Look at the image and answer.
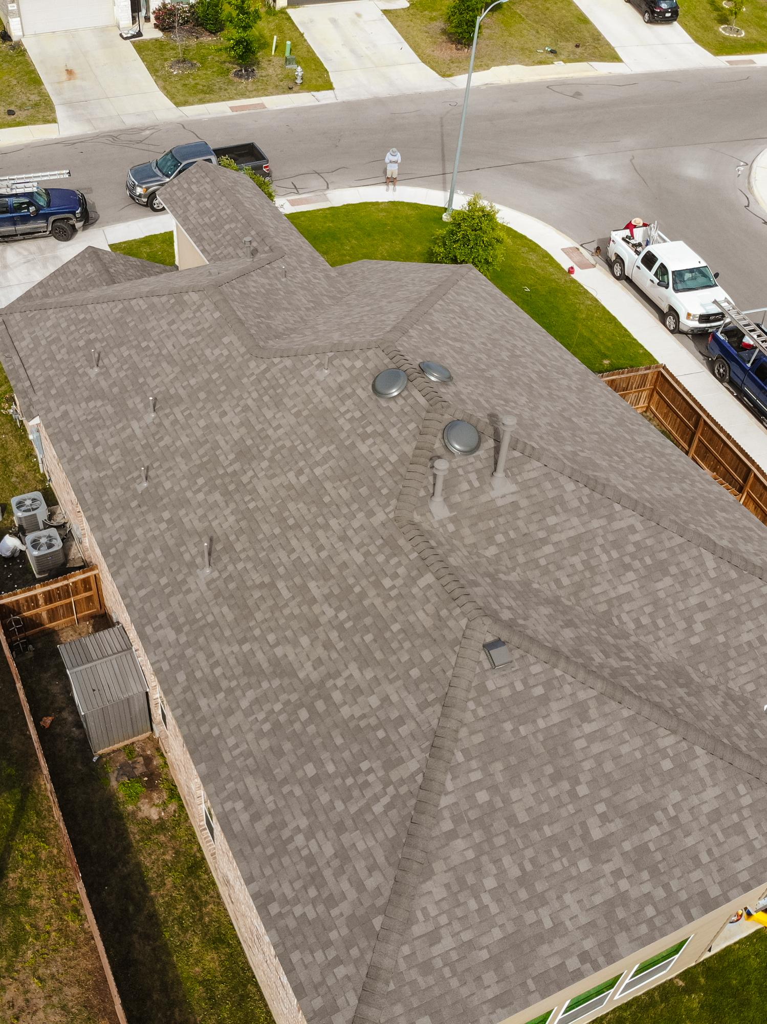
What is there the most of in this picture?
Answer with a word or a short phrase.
buildings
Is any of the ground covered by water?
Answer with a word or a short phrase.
No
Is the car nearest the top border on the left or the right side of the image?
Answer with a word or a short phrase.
right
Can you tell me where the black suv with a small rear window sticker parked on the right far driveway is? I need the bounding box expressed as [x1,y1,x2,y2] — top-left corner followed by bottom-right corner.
[633,0,681,25]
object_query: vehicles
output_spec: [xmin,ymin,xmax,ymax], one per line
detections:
[633,0,681,25]
[0,171,91,246]
[118,136,270,210]
[704,308,767,423]
[606,229,743,339]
